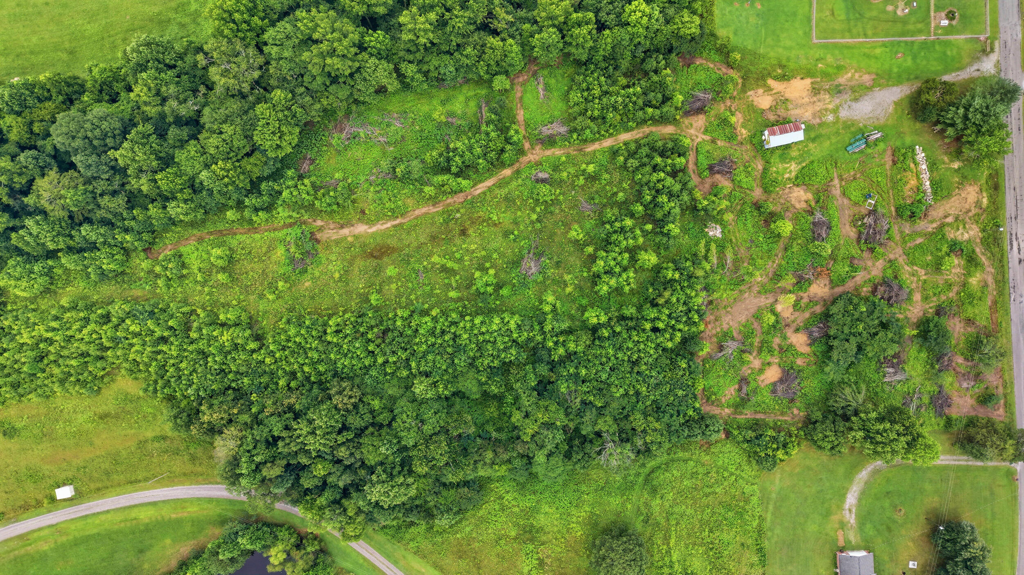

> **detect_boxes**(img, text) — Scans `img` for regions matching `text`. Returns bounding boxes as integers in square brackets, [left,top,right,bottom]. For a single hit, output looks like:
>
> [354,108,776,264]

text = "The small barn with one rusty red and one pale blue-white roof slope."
[761,121,809,149]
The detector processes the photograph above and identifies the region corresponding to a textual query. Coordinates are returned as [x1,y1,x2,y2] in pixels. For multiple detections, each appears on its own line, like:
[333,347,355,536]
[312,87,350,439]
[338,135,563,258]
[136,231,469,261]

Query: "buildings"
[52,485,76,502]
[761,121,809,149]
[827,548,881,575]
